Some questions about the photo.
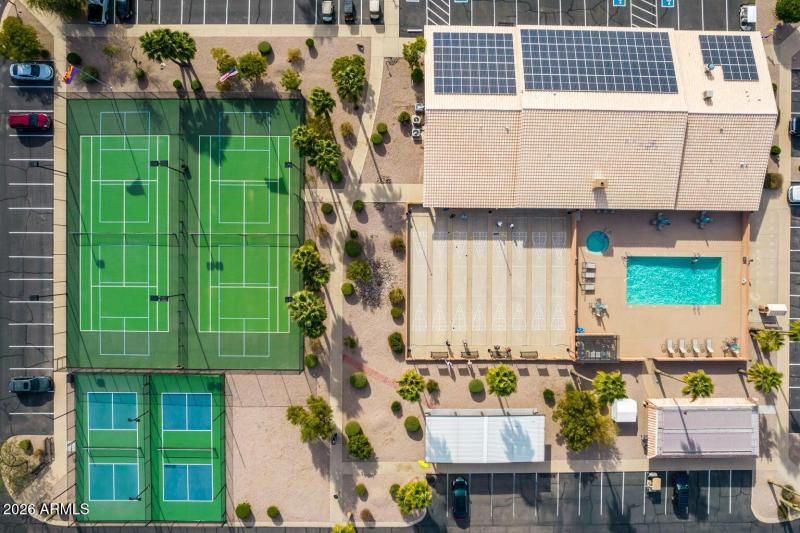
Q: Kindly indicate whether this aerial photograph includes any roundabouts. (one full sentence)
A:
No, there's no roundabout here.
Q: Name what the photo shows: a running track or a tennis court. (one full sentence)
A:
Looking from above, you can make out a tennis court.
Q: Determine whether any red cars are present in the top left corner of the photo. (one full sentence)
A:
Yes, I can see a red car in the top left corner of the photo.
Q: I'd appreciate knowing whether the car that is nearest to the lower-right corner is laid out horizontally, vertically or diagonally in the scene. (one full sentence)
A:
The car that is nearest to the lower-right corner is oriented vertically.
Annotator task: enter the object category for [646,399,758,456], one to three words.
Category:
building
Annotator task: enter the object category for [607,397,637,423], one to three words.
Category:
shed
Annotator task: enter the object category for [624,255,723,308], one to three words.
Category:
swimming pool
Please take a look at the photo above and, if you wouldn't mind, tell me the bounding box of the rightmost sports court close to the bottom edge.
[151,374,225,521]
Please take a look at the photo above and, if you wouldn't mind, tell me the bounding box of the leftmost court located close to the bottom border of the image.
[76,374,150,521]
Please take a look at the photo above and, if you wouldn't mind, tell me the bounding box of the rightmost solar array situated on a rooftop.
[700,34,757,80]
